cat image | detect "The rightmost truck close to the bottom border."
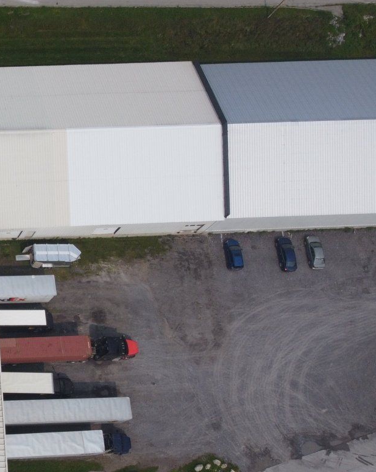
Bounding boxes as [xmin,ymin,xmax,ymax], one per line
[103,425,133,453]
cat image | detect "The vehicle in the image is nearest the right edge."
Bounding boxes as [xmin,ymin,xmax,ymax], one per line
[304,236,328,269]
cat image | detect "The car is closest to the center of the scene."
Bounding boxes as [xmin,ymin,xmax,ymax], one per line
[223,239,247,270]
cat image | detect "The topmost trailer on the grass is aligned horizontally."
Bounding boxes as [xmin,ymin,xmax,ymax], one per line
[11,244,85,269]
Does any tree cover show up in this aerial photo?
No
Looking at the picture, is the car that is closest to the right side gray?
Yes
